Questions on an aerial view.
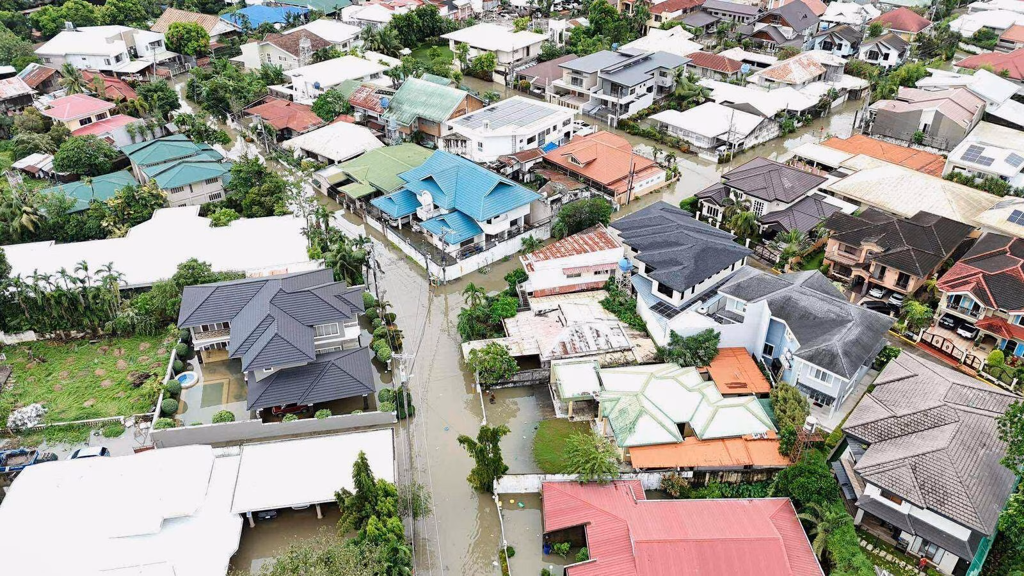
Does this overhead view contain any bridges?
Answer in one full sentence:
No, I can't see a single bridge in this photo.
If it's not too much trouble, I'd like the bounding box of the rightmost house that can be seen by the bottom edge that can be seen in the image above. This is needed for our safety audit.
[833,349,1024,576]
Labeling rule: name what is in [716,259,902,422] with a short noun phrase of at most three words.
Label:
house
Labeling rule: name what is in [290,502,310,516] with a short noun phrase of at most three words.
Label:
car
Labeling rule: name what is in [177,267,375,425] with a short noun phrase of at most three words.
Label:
house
